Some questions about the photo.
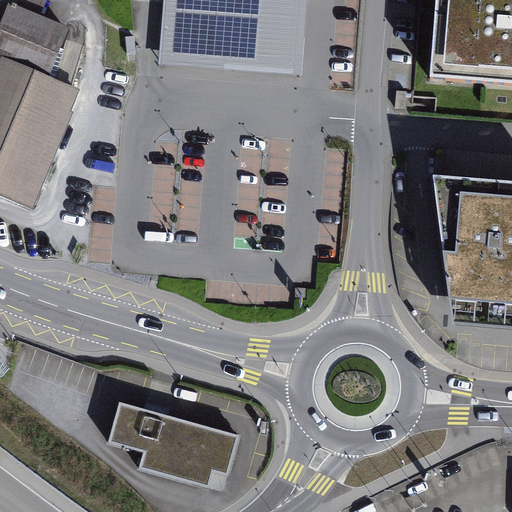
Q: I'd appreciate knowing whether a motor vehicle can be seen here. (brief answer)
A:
Yes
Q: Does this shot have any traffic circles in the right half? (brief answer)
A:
Yes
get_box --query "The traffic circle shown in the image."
[286,316,427,456]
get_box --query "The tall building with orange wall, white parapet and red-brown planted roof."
[428,0,512,86]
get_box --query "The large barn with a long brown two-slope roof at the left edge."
[0,56,80,210]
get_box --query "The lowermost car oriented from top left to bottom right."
[308,408,327,431]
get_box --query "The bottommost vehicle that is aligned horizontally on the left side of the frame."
[173,388,198,400]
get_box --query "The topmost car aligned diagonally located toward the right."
[390,220,412,240]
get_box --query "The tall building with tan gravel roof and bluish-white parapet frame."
[432,174,512,330]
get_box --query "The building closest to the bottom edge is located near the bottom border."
[108,402,240,492]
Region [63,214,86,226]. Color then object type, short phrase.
white vehicle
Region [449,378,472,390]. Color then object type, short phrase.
white vehicle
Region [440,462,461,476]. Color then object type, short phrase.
black car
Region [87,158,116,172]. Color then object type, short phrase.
blue vehicle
